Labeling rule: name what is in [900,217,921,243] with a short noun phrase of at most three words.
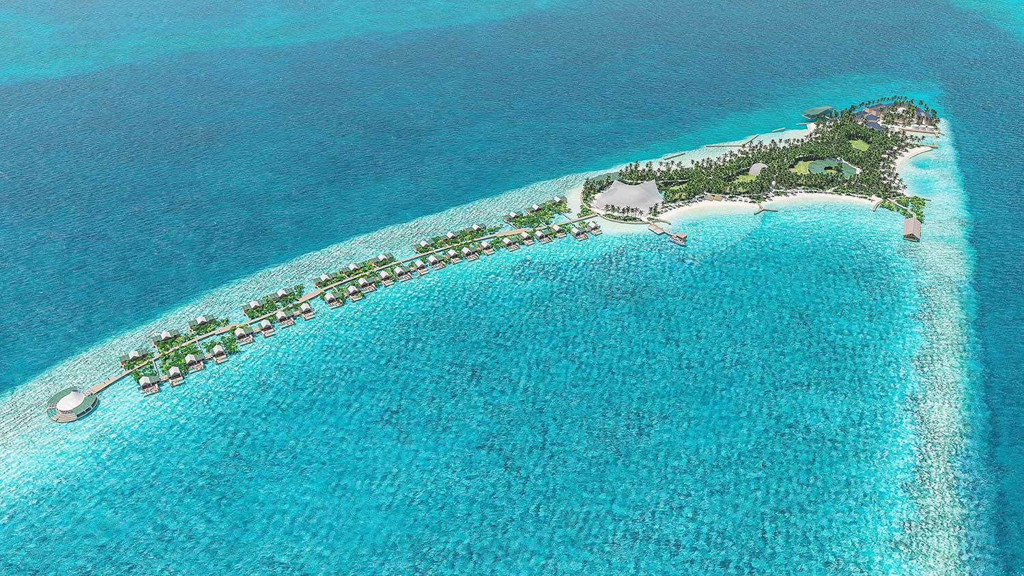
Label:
building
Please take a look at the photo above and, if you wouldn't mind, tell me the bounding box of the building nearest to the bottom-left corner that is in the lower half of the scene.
[45,383,98,424]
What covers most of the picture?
water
